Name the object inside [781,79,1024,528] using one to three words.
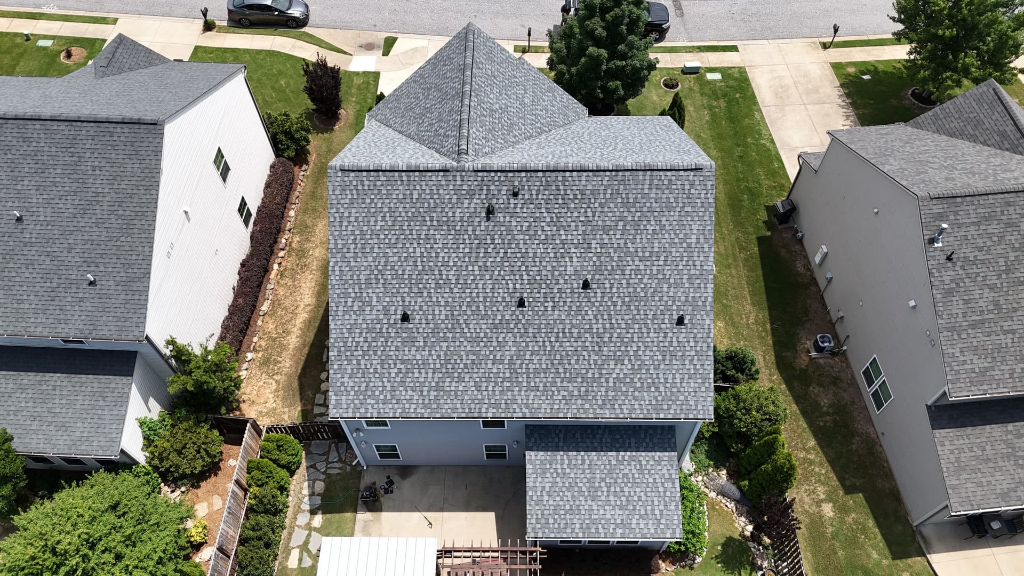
house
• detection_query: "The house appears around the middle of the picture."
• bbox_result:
[328,23,716,554]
